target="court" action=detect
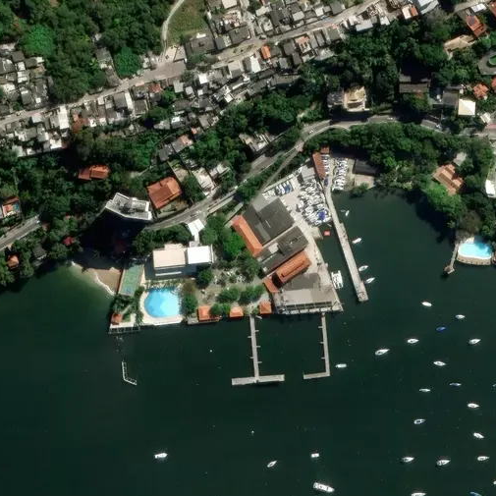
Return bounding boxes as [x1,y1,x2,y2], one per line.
[119,264,143,295]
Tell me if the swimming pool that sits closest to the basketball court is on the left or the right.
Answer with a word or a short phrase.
left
